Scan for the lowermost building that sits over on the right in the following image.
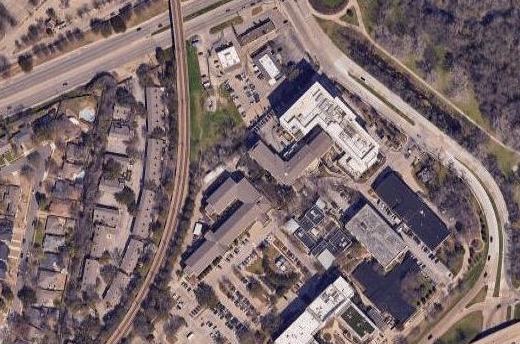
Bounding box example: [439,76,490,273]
[274,277,379,344]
